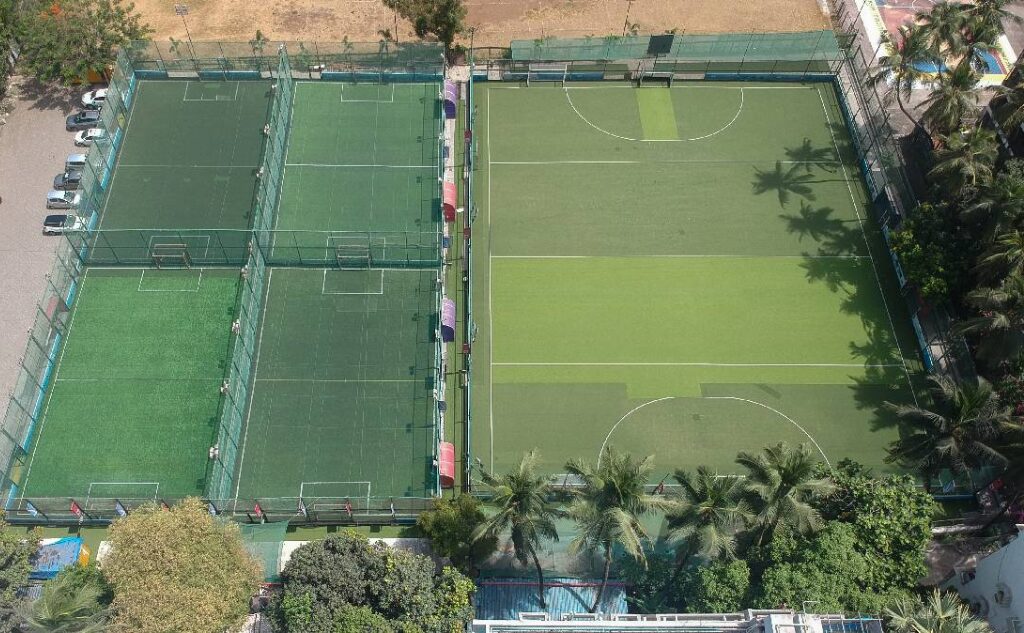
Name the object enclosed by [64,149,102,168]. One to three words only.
car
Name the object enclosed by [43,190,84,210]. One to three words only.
car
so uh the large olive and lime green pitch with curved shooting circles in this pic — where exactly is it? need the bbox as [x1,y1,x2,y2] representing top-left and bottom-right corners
[471,78,977,507]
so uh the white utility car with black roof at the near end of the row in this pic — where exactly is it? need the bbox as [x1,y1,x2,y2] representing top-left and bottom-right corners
[39,216,84,237]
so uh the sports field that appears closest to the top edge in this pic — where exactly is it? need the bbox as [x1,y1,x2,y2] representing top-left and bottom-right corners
[0,0,832,48]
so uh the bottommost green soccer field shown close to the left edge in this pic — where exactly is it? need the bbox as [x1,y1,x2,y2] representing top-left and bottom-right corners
[7,266,266,520]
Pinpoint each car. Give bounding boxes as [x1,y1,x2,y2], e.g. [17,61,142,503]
[67,107,108,128]
[64,149,102,168]
[84,86,120,105]
[43,190,84,210]
[71,128,108,147]
[39,216,84,237]
[52,167,90,187]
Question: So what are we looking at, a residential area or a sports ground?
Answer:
sports ground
